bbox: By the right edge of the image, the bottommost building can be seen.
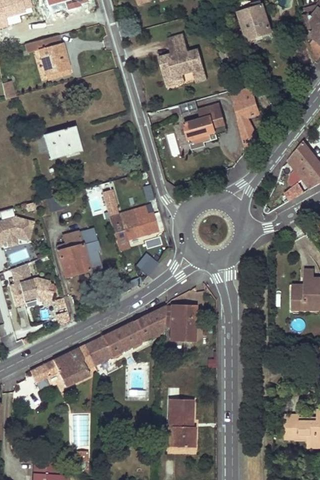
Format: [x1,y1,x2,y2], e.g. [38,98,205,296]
[284,412,320,450]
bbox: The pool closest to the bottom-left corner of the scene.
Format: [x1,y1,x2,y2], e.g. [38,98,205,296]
[72,415,89,447]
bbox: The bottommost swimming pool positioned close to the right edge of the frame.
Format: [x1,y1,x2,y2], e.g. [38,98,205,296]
[290,318,306,334]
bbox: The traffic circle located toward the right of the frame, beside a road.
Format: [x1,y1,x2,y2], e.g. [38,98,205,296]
[174,192,254,277]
